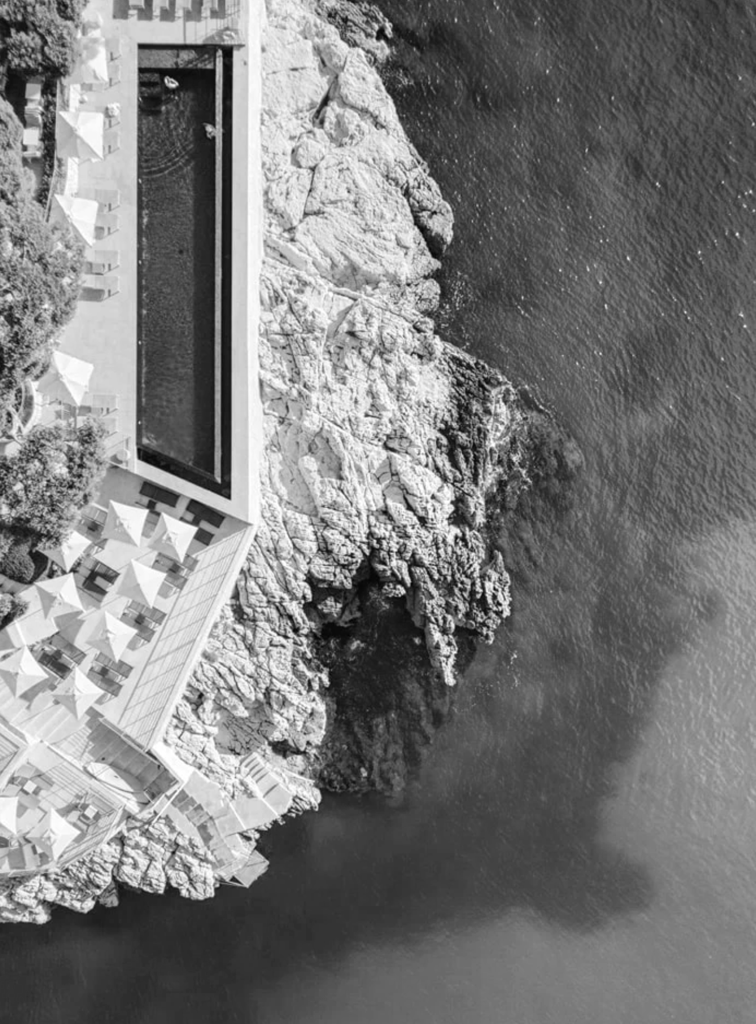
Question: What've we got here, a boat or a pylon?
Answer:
boat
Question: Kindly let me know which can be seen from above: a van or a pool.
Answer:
pool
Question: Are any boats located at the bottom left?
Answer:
Yes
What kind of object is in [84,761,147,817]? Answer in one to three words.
boat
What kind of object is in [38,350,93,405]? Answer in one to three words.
umbrella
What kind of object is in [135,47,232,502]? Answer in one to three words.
swimming pool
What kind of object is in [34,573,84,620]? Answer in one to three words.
umbrella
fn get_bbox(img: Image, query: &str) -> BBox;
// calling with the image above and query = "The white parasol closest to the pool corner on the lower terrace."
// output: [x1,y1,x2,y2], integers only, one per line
[147,513,197,562]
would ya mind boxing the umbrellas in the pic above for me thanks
[116,560,166,608]
[38,350,93,405]
[147,513,197,562]
[58,111,103,162]
[25,808,81,862]
[34,573,84,620]
[101,500,149,547]
[51,667,104,718]
[0,797,18,834]
[80,10,107,40]
[85,611,137,663]
[68,38,108,85]
[36,533,91,572]
[49,195,98,246]
[0,645,48,698]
